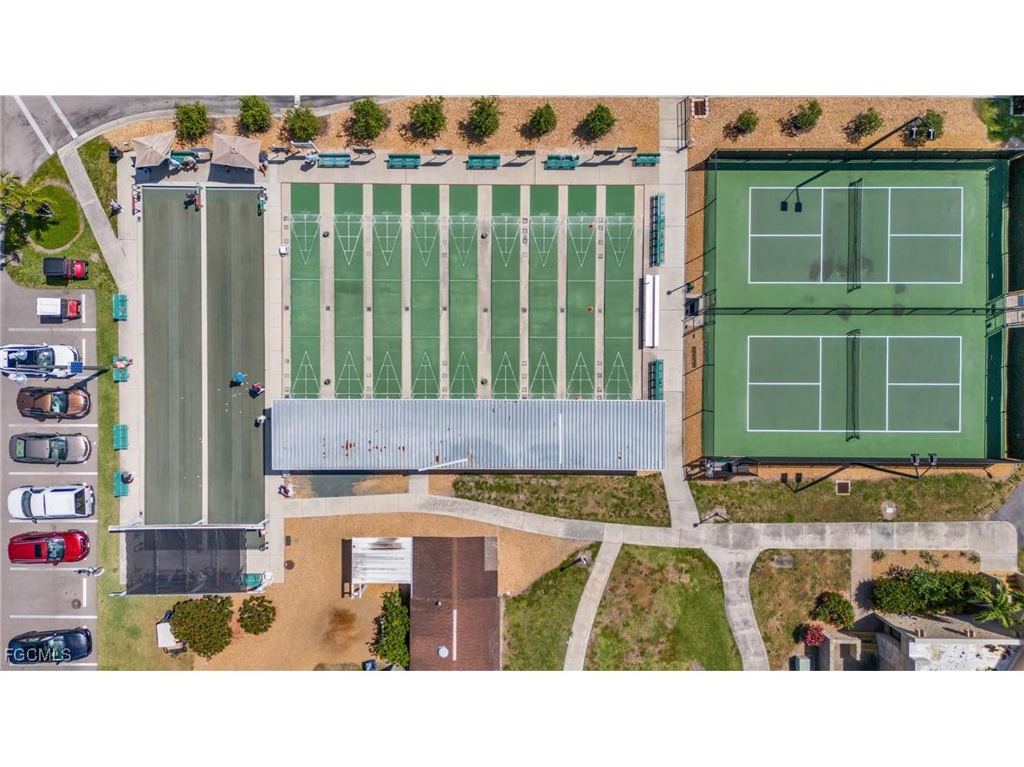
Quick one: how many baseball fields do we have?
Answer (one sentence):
There are no baseball fields in this view.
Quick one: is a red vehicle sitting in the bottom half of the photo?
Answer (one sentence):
Yes, the scene does show a red vehicle in the bottom half of the photo.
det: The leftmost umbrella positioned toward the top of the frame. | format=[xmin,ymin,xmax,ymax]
[132,130,176,167]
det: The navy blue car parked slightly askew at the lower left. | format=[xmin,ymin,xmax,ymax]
[11,623,93,664]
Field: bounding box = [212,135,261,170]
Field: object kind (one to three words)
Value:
umbrella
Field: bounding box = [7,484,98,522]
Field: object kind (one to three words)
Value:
truck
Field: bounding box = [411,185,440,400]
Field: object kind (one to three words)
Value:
sports court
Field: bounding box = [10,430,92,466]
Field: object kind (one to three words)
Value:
car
